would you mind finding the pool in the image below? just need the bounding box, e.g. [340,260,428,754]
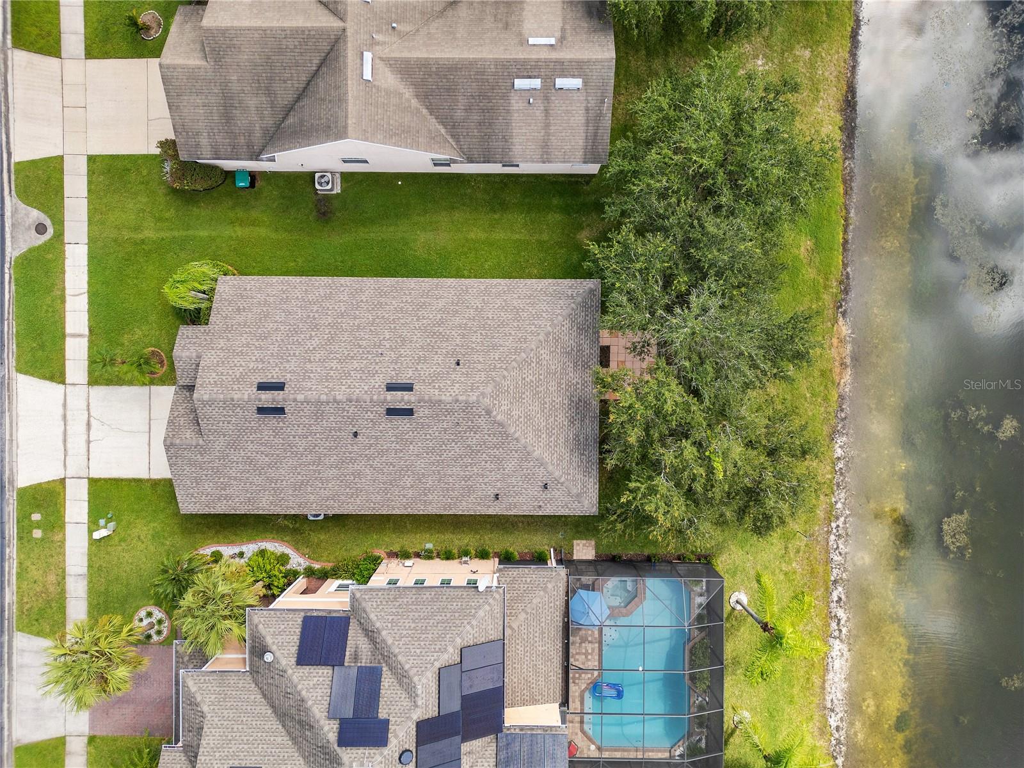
[580,579,695,752]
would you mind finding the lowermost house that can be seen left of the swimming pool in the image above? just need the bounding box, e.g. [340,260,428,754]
[158,546,570,768]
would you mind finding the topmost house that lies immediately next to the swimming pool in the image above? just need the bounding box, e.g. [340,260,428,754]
[164,276,600,515]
